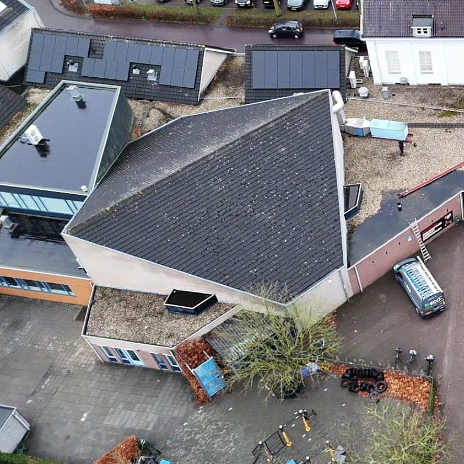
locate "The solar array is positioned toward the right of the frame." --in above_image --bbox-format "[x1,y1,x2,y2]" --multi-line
[249,51,340,88]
